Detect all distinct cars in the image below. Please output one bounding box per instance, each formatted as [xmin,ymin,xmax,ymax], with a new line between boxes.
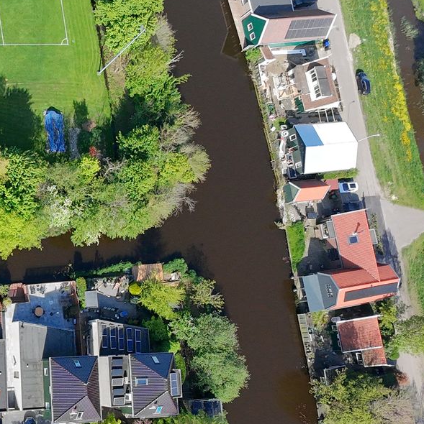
[354,71,371,94]
[293,0,310,7]
[338,181,359,193]
[338,193,363,206]
[22,416,36,424]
